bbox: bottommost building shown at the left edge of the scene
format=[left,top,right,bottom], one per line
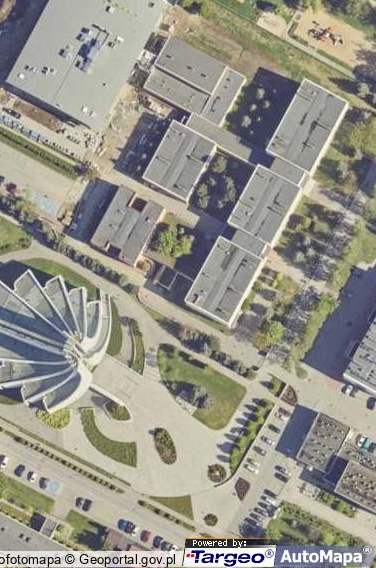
[0,513,118,568]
